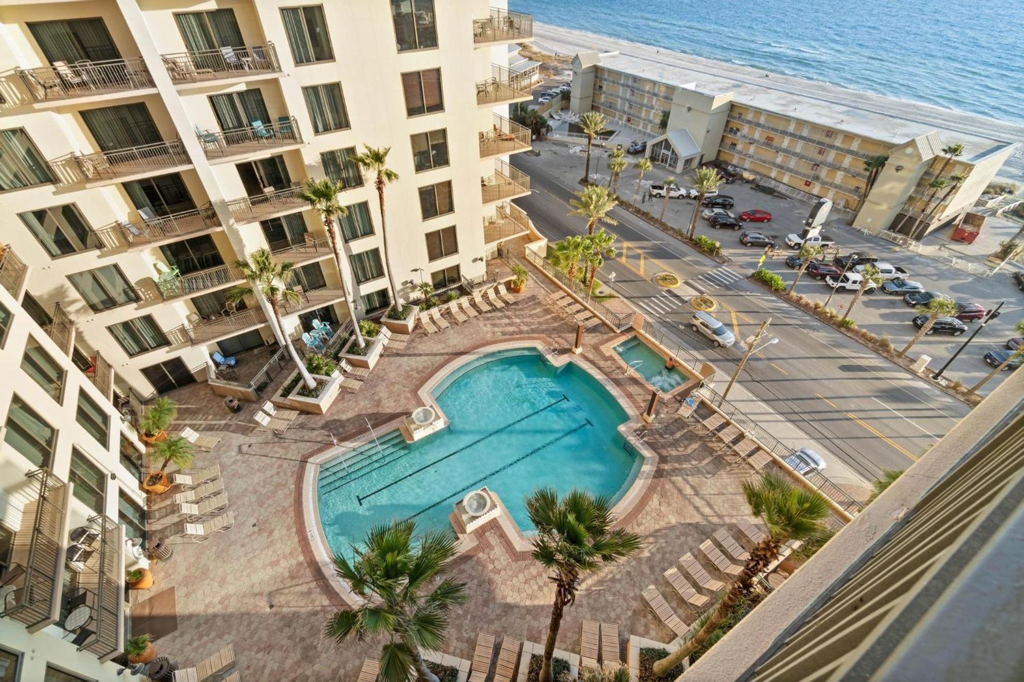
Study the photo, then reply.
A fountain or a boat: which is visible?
fountain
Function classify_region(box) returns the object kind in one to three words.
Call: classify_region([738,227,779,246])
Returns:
car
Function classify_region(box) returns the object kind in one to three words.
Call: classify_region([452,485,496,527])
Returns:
fountain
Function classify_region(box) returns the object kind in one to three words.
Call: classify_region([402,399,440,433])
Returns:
fountain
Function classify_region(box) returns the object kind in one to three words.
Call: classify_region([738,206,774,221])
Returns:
car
